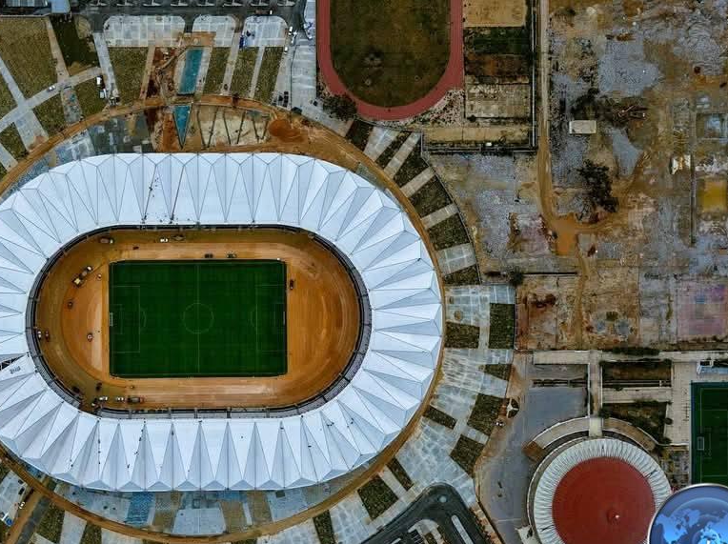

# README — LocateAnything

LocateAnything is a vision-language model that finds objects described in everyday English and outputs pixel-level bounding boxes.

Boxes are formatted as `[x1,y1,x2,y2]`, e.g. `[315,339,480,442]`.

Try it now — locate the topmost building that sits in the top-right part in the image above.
[567,120,596,135]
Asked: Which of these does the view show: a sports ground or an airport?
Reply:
sports ground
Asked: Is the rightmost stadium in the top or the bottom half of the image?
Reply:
bottom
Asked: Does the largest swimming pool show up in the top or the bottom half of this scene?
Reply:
top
